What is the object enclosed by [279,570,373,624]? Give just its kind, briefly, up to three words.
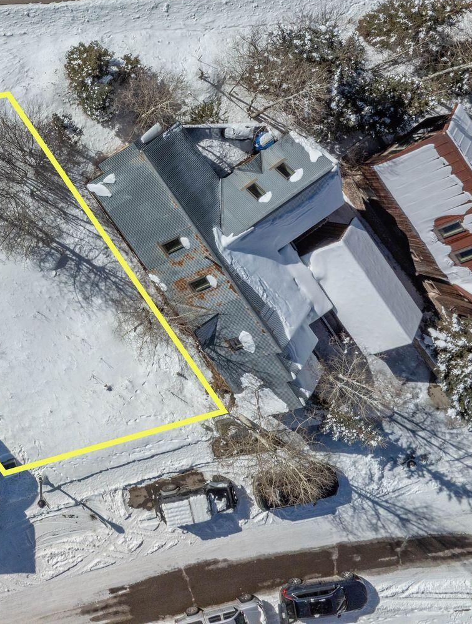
car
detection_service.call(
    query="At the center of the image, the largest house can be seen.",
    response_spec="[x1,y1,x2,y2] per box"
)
[86,120,345,417]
